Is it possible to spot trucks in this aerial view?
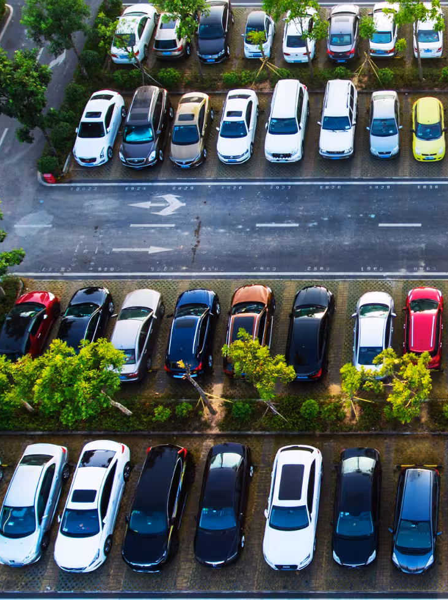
No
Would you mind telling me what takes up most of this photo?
paved ground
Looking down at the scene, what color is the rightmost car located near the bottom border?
blue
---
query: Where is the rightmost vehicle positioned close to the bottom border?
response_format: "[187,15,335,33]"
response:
[384,468,439,575]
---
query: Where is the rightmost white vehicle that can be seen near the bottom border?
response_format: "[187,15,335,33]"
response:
[260,450,320,571]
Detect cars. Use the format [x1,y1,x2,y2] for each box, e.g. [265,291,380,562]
[151,9,195,61]
[214,90,260,165]
[120,449,191,573]
[282,7,319,65]
[365,92,404,161]
[167,94,216,170]
[191,445,254,570]
[264,81,309,164]
[351,291,397,382]
[367,1,402,59]
[316,81,358,161]
[53,288,113,378]
[0,292,53,384]
[110,290,166,383]
[282,286,330,383]
[326,3,361,65]
[195,0,238,66]
[260,450,320,571]
[328,450,382,569]
[239,13,276,61]
[413,8,446,60]
[401,286,448,373]
[160,288,219,379]
[411,102,447,163]
[217,283,271,382]
[384,468,439,575]
[68,91,122,168]
[48,443,122,572]
[0,445,67,566]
